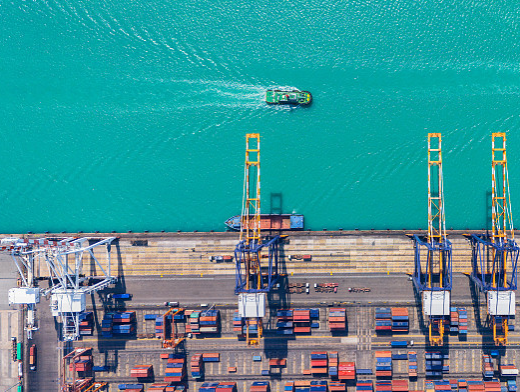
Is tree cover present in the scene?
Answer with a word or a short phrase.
No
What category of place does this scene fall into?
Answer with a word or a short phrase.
port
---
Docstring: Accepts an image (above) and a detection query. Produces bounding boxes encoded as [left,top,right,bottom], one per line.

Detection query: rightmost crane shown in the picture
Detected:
[463,133,520,346]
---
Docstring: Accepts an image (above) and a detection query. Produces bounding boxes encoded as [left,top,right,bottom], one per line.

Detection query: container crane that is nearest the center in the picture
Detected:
[230,134,290,347]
